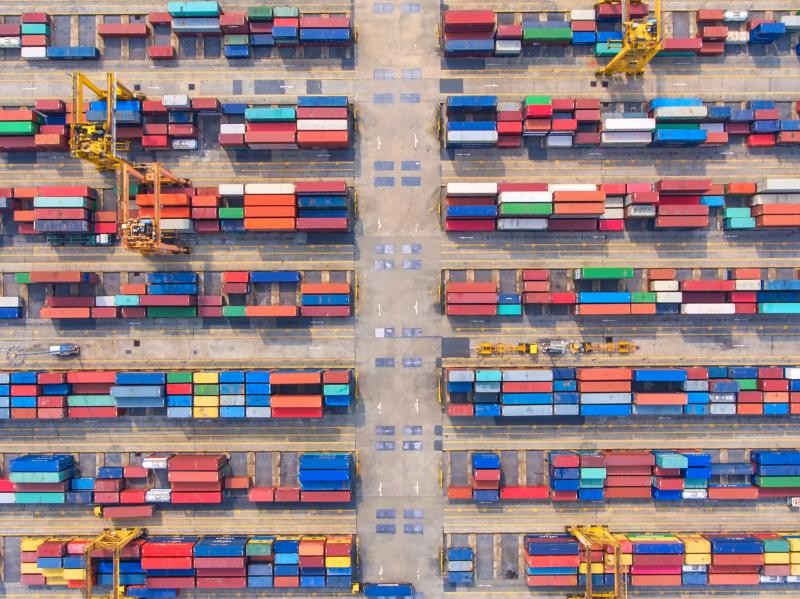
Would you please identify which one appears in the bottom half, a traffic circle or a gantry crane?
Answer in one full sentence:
It is a gantry crane that can be seen in the bottom half.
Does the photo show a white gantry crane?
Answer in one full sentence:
No, I find no white gantry crane anywhere in the image.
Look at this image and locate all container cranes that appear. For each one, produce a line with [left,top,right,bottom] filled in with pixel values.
[71,73,146,169]
[84,527,154,599]
[561,524,623,599]
[596,0,661,76]
[118,163,189,252]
